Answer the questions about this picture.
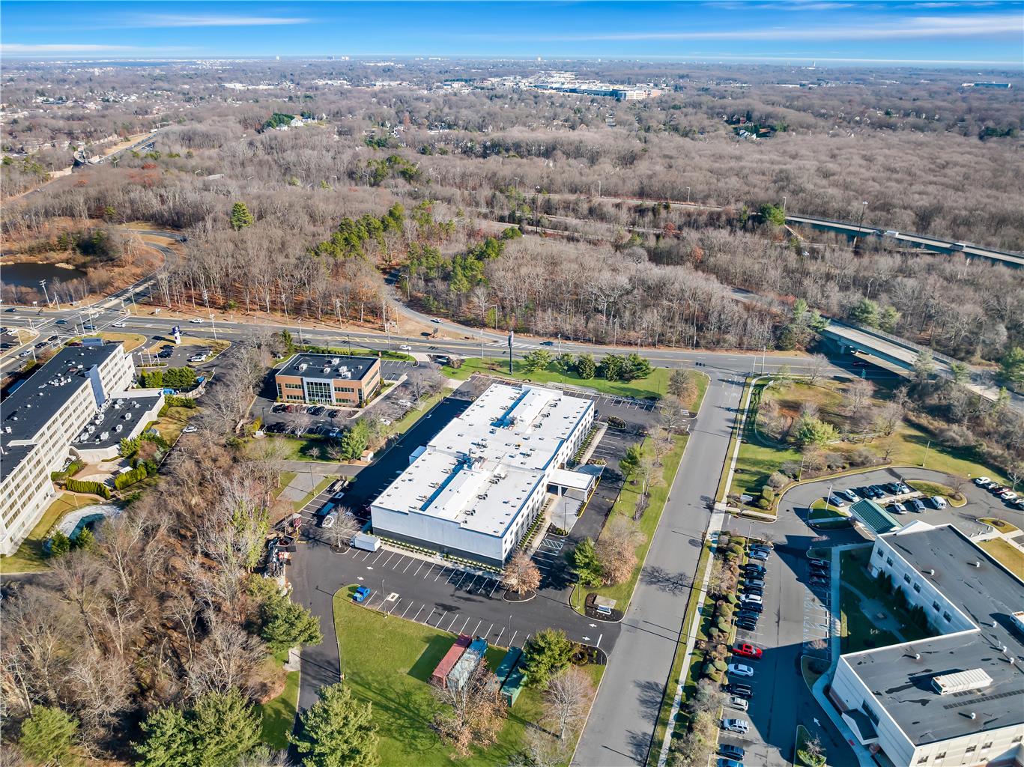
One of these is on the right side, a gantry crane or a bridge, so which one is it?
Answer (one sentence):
It is a bridge that can be seen on the right side.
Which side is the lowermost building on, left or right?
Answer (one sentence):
The lowermost building is on the right side of the image.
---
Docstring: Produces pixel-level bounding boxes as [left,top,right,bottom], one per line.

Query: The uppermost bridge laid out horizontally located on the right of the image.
[781,215,1024,271]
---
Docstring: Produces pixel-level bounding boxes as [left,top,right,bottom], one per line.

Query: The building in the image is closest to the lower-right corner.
[831,512,1024,767]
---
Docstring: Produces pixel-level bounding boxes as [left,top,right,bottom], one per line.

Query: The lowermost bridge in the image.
[815,316,973,380]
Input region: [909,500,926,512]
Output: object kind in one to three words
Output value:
vehicle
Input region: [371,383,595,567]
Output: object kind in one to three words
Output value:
building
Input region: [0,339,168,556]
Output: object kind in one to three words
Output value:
building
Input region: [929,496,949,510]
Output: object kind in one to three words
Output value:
vehicle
